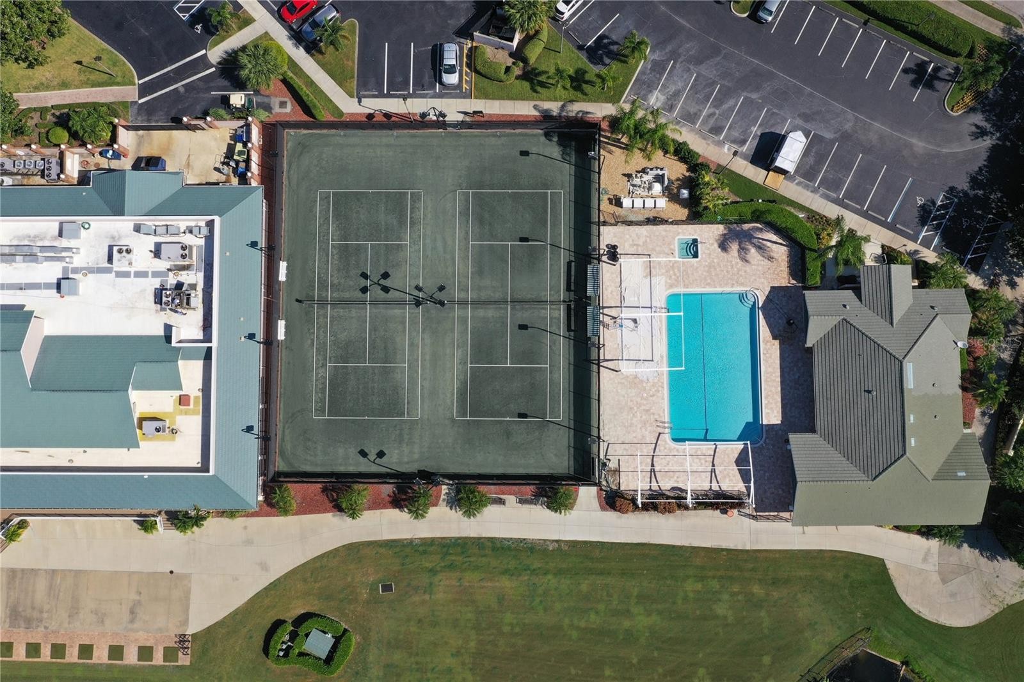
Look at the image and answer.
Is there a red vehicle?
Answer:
Yes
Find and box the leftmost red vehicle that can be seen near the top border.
[283,0,327,24]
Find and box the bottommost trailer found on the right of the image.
[765,126,807,189]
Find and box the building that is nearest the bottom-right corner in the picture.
[788,264,991,527]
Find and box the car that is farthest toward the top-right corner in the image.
[755,0,784,26]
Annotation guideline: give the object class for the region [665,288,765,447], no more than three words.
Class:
swimming pool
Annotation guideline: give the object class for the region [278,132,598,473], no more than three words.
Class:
tennis court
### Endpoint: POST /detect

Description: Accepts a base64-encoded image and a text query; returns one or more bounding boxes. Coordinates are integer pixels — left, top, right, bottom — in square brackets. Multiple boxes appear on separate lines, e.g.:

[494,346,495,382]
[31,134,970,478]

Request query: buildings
[788,264,991,527]
[0,171,270,528]
[304,627,337,660]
